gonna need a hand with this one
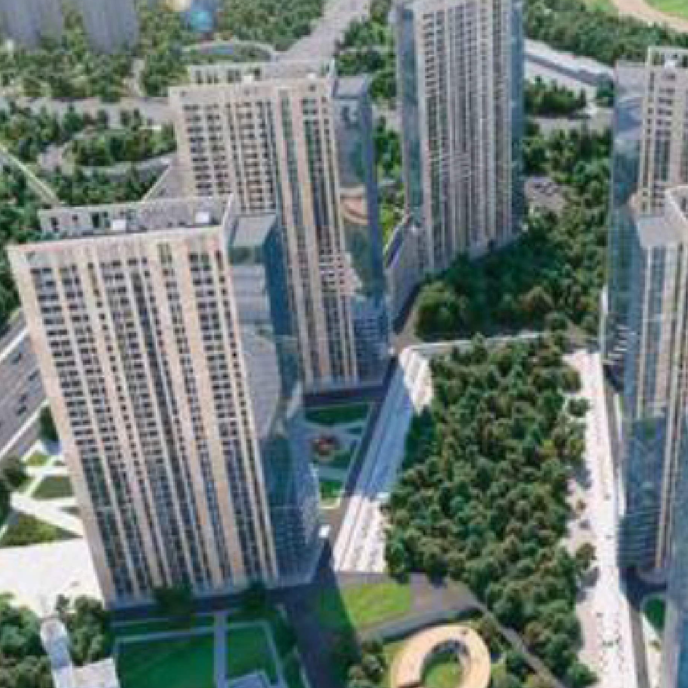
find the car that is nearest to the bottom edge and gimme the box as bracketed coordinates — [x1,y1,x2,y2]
[317,526,332,540]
